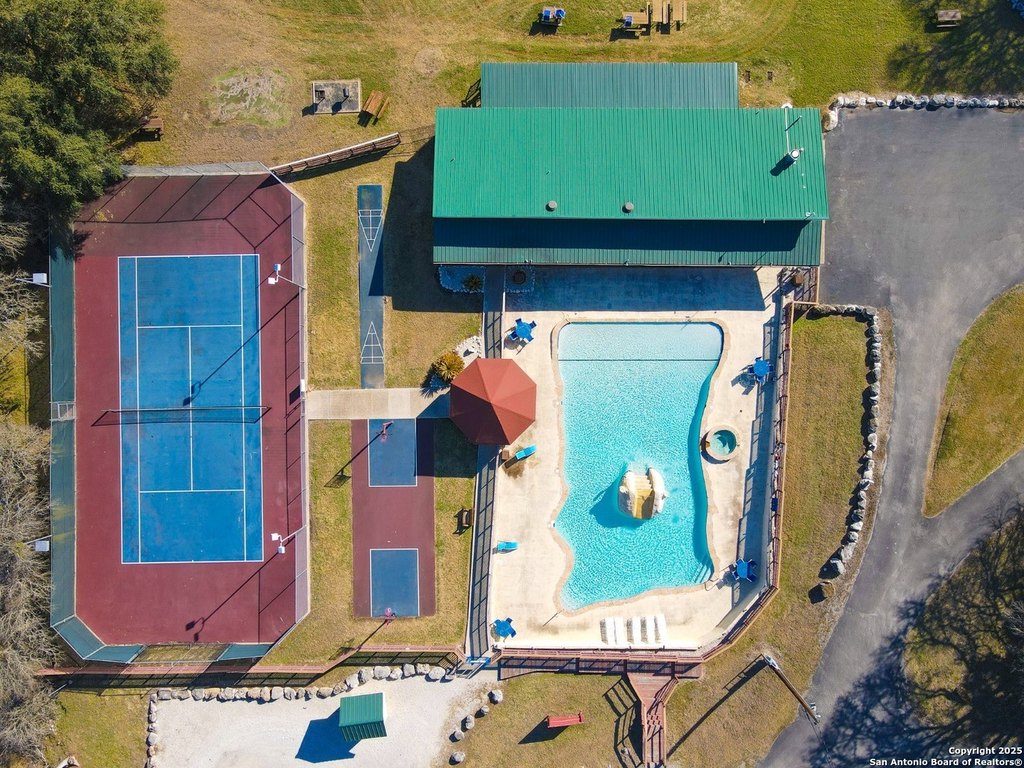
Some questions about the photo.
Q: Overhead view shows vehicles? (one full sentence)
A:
No, this view has no vehicle in it.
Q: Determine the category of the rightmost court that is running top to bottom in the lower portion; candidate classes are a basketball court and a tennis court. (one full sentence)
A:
The rightmost court that is running top to bottom in the lower portion can be classified as a basketball court.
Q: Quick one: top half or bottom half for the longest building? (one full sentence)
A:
The longest building sits in the top half of the picture.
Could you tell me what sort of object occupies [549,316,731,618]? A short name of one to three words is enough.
swimming pool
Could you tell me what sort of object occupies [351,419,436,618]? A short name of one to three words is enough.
basketball court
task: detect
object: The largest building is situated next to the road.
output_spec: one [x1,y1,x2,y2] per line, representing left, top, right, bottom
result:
[432,63,829,273]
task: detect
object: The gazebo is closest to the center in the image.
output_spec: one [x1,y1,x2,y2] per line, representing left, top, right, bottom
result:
[450,359,536,444]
